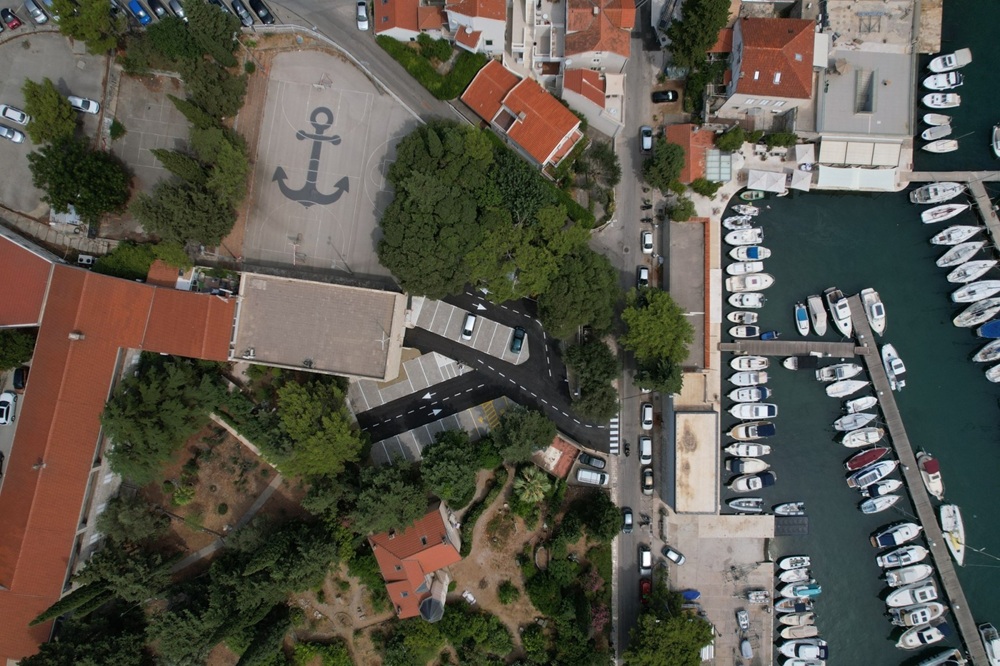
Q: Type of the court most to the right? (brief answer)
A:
basketball court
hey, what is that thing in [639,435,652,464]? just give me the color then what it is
white vehicle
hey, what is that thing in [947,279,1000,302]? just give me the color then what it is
white boat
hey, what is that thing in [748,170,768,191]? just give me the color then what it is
white umbrella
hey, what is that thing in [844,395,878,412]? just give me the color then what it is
white boat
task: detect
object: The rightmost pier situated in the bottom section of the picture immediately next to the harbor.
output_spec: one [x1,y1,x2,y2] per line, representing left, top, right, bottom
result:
[847,293,987,666]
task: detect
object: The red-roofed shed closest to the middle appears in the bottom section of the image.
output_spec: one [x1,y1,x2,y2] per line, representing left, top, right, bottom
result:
[532,433,579,478]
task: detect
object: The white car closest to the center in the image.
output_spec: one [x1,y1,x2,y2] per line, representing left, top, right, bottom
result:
[461,312,478,341]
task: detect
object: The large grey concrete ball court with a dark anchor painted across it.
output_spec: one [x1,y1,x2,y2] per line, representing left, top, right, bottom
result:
[243,49,422,296]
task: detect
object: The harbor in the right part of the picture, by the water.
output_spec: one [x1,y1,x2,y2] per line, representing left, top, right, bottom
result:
[661,134,914,666]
